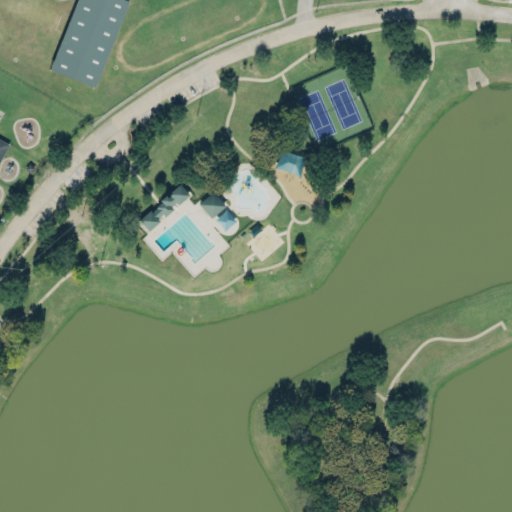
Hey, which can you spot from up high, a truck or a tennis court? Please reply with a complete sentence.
I can see a tennis court in this picture.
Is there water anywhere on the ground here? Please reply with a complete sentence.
Yes, water shows up in the scene.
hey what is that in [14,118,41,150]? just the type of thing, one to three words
playground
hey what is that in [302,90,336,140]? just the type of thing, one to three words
tennis court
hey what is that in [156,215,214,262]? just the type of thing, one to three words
swimming pool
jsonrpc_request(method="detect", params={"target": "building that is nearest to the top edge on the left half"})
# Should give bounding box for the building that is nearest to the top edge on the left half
[52,0,129,88]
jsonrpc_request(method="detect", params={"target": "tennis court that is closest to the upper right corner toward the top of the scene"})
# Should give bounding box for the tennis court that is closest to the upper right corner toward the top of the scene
[326,80,362,130]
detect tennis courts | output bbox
[326,80,362,130]
[302,90,336,140]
